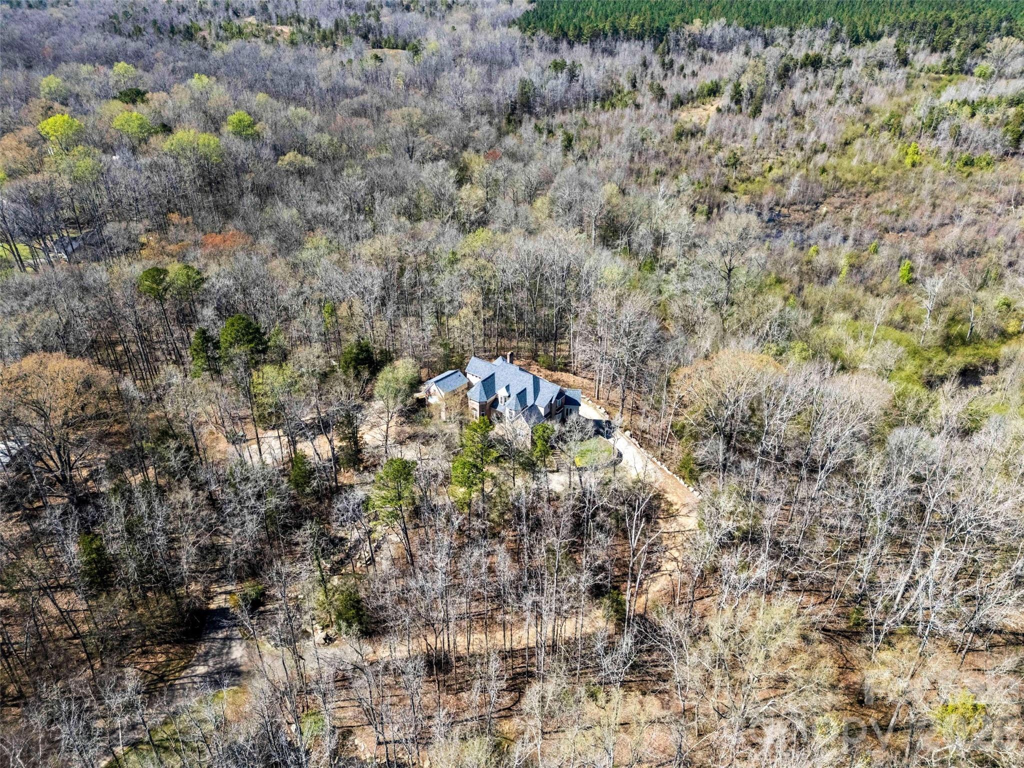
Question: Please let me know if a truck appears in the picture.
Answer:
No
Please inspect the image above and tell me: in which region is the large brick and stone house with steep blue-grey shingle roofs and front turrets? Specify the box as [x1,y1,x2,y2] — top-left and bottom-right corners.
[466,349,581,449]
